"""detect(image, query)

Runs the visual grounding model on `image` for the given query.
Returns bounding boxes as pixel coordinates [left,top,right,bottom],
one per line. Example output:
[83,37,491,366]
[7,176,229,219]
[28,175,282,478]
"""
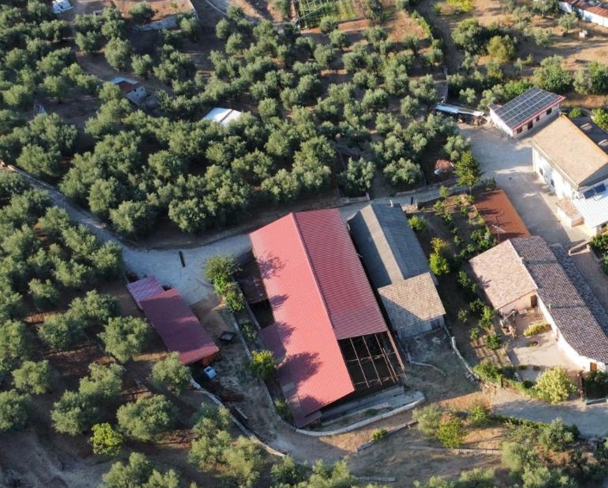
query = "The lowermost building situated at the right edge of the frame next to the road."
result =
[469,236,608,380]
